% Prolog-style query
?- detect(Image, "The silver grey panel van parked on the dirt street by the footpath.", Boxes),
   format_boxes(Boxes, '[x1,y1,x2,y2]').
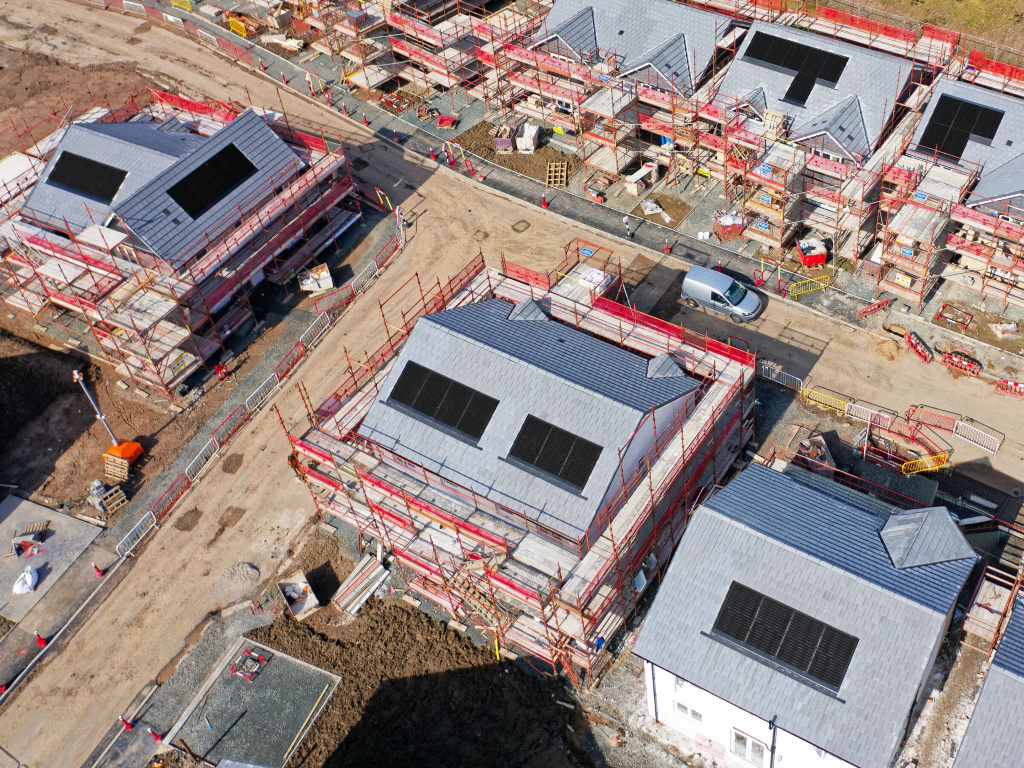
[679,262,766,324]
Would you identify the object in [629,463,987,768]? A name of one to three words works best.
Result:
house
